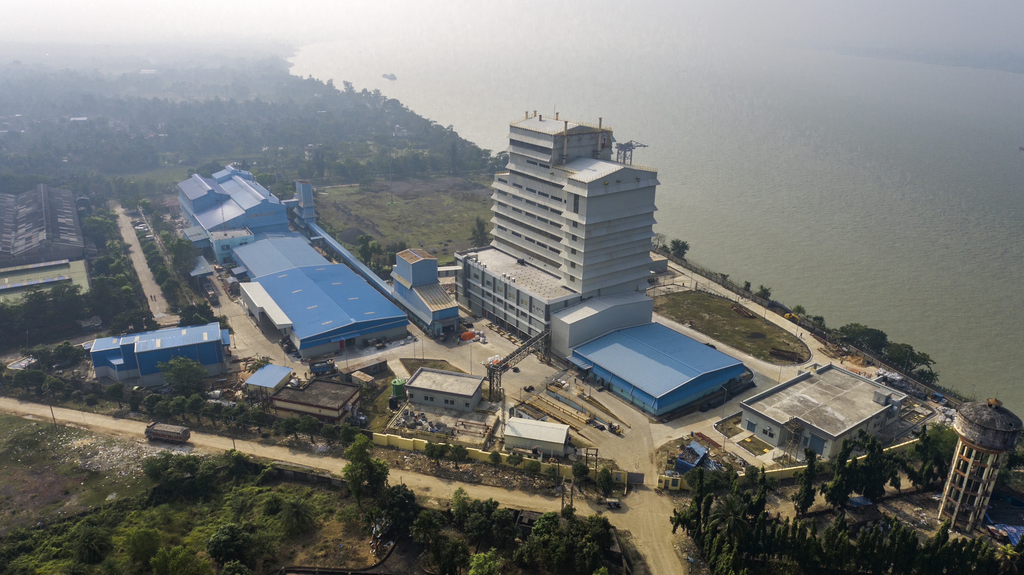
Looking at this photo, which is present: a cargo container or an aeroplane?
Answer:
cargo container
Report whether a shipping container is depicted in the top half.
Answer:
No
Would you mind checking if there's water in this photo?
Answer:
Yes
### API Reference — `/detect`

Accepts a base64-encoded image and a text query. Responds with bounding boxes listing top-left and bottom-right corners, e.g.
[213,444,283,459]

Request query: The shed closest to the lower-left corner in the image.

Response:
[9,356,40,377]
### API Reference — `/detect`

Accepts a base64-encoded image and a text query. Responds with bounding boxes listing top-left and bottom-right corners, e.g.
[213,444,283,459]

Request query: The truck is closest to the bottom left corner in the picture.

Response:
[145,423,191,444]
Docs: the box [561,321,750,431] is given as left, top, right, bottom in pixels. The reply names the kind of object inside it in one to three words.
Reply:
shed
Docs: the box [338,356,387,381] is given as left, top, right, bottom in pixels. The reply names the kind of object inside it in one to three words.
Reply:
shipping container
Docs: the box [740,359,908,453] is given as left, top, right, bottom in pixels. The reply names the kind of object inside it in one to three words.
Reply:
building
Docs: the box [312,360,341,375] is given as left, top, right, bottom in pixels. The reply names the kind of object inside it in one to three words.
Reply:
vehicle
